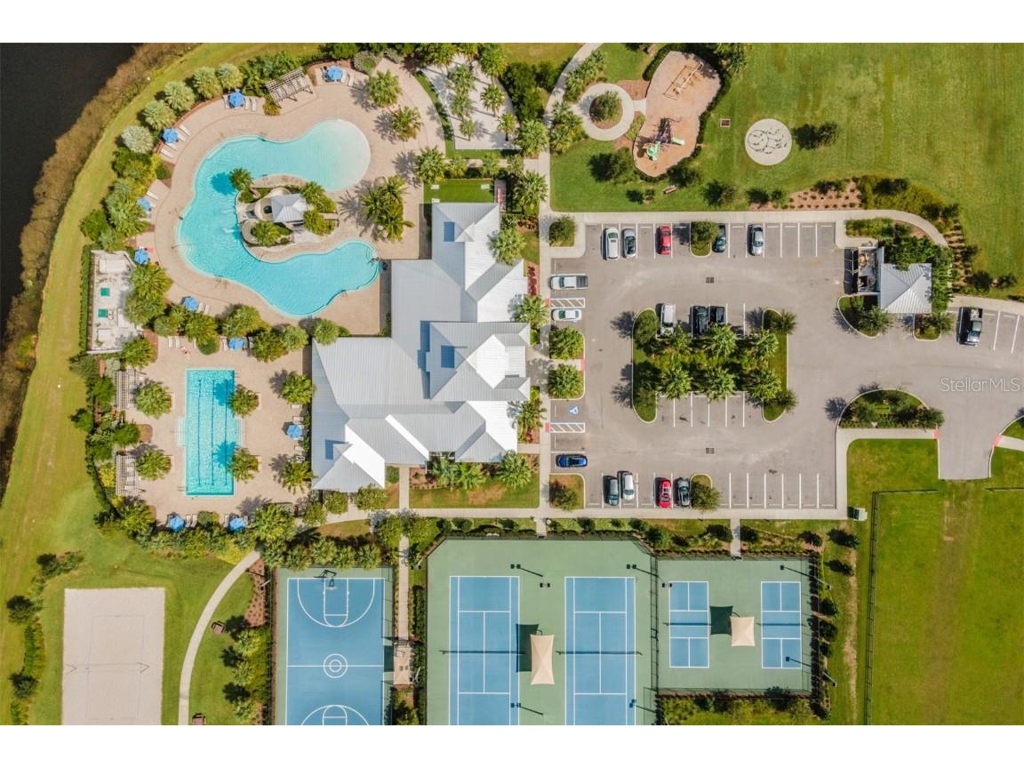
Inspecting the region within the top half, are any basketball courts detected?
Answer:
No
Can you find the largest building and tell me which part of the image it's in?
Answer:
center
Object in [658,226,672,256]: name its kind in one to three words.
car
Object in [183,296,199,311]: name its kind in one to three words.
umbrella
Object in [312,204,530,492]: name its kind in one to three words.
building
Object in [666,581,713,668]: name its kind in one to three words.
sports court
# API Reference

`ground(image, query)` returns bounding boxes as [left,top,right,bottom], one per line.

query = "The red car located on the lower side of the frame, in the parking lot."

[658,478,672,508]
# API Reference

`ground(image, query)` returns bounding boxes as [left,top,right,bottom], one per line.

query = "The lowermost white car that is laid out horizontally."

[551,308,581,322]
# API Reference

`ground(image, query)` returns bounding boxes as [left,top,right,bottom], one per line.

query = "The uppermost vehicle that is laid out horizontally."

[549,274,588,289]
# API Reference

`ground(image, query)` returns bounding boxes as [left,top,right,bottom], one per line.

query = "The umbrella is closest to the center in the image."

[287,423,302,438]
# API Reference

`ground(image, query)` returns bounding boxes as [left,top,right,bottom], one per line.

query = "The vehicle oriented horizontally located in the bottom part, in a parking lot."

[555,454,588,469]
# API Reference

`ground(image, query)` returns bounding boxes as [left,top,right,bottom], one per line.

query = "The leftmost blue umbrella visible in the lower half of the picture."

[168,515,184,531]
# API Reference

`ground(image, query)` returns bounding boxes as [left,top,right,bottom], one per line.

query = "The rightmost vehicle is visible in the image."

[959,307,980,346]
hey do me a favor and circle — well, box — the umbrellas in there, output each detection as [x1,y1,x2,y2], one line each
[183,296,199,311]
[230,516,245,532]
[228,91,244,107]
[327,66,343,82]
[134,249,151,264]
[135,198,152,213]
[287,423,302,438]
[229,336,245,351]
[168,515,184,531]
[163,128,180,144]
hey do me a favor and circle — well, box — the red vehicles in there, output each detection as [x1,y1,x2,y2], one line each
[658,226,672,256]
[658,478,672,508]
